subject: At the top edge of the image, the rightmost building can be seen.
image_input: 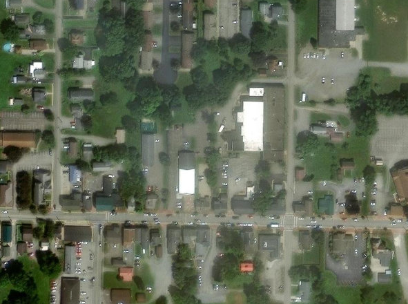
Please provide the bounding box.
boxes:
[317,0,355,49]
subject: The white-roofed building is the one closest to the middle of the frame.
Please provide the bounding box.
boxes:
[178,150,194,194]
